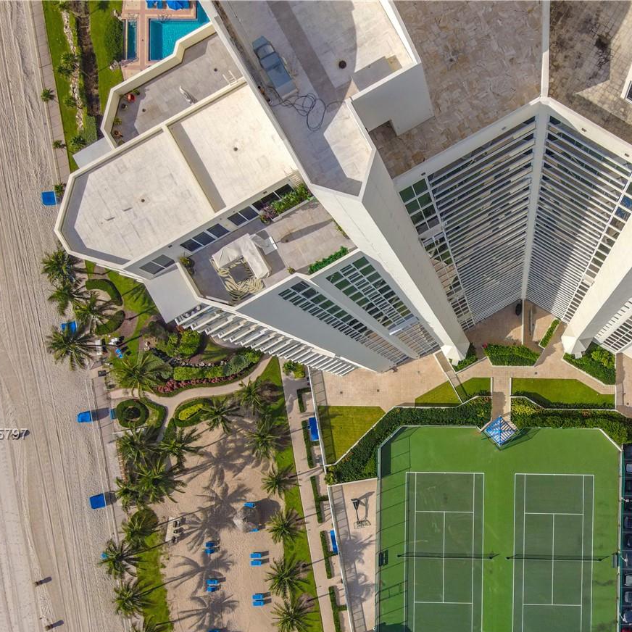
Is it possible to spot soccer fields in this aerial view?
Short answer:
No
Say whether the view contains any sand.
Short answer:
Yes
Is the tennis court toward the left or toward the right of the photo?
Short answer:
right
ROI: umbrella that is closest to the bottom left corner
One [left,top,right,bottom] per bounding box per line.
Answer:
[234,504,258,529]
